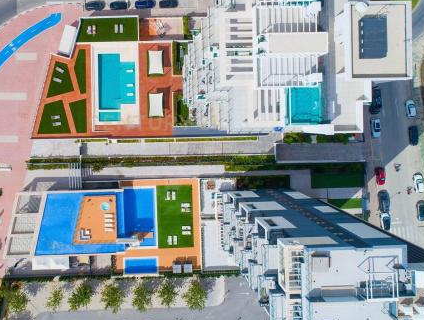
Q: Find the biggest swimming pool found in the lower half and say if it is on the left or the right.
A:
left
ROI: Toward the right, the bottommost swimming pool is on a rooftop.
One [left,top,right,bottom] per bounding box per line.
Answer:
[285,86,321,124]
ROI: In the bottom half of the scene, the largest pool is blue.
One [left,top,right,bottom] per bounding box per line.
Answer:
[36,192,125,254]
